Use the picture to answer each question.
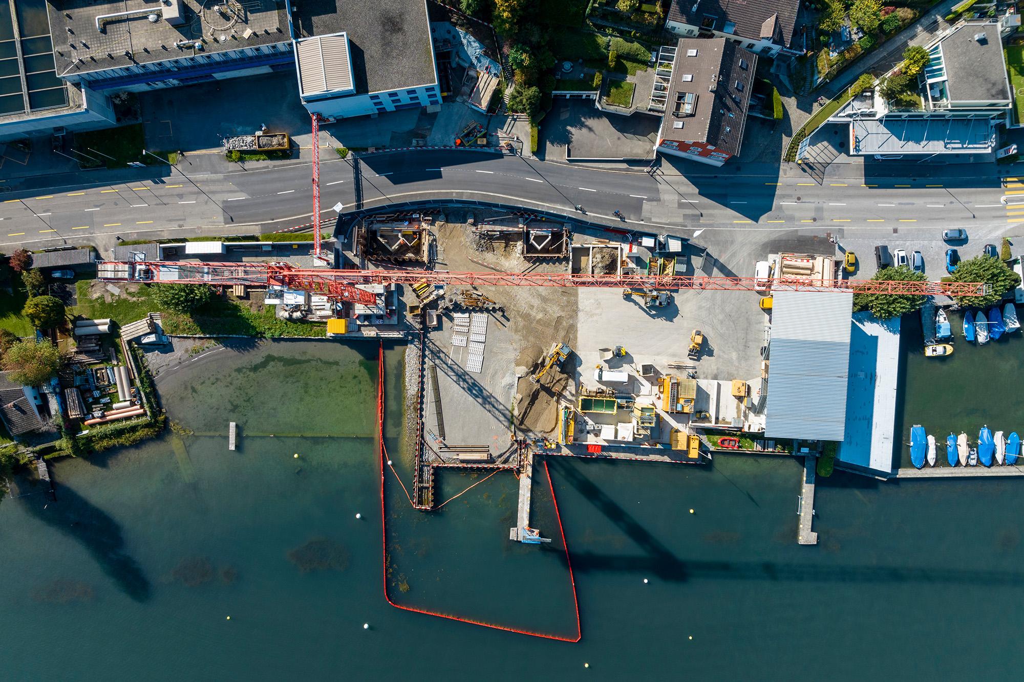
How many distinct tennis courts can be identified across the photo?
0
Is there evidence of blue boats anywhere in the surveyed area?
Yes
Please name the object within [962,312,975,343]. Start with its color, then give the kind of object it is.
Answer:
blue boat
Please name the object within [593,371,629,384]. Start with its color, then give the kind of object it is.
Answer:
white vehicle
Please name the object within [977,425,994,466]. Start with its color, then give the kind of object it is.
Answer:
blue boat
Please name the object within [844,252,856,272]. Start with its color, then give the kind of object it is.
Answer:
yellow vehicle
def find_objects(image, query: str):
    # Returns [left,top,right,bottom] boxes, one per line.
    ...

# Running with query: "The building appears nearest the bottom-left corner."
[0,373,53,435]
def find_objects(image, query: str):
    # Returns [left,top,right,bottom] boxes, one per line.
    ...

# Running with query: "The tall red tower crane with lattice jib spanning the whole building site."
[95,251,992,323]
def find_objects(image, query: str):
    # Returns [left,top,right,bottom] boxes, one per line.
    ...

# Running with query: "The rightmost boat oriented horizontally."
[923,344,953,358]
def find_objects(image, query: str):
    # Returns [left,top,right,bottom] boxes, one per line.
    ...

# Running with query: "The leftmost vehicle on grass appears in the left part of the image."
[52,268,75,280]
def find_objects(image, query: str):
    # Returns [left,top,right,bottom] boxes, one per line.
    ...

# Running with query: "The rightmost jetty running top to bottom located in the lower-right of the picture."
[797,456,817,544]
